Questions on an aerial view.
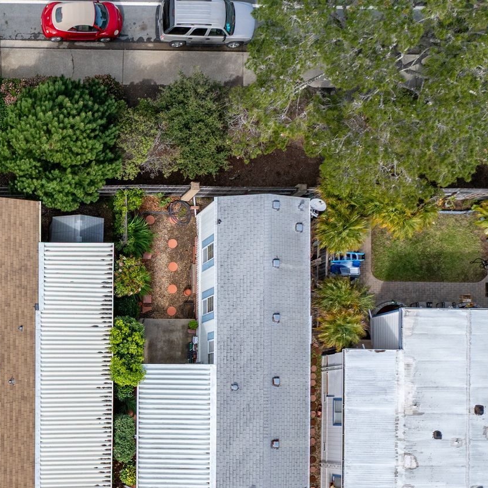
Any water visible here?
No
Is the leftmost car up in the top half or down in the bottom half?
top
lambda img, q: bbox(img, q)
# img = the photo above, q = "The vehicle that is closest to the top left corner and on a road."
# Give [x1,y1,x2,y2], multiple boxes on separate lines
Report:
[40,0,122,43]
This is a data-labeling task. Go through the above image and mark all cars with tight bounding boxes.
[152,0,255,47]
[40,0,122,43]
